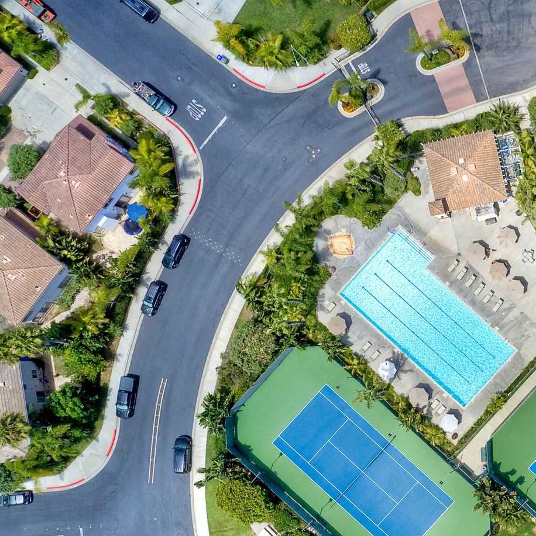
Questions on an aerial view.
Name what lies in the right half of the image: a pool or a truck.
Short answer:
pool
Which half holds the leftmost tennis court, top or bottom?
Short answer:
bottom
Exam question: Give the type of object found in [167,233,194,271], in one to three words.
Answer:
car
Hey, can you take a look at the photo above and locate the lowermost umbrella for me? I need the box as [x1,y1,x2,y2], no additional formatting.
[440,414,458,432]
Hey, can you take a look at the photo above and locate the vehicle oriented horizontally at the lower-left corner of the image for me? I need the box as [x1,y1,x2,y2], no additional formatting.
[1,490,37,507]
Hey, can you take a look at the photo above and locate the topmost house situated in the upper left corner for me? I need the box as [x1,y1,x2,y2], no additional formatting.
[0,52,35,108]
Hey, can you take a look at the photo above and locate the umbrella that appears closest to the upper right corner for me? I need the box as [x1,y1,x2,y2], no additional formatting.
[497,226,517,247]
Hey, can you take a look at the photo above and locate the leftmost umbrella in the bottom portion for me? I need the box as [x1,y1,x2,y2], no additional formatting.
[327,317,346,335]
